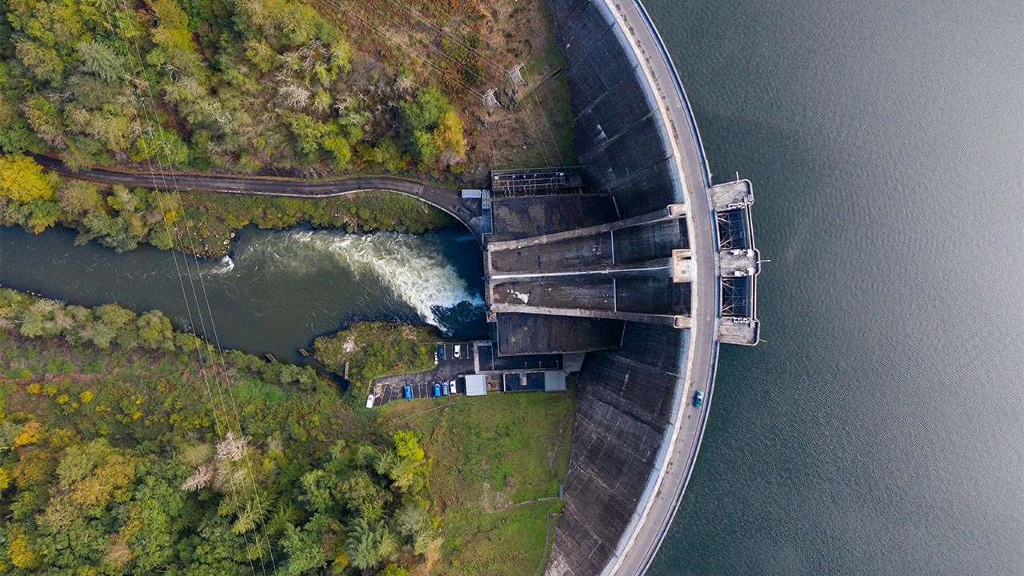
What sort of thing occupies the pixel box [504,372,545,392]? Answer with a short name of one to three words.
building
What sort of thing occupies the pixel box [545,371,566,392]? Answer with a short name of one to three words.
shed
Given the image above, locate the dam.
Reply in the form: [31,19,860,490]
[487,0,761,576]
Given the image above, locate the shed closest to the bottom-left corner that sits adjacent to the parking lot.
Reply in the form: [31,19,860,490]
[466,374,487,396]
